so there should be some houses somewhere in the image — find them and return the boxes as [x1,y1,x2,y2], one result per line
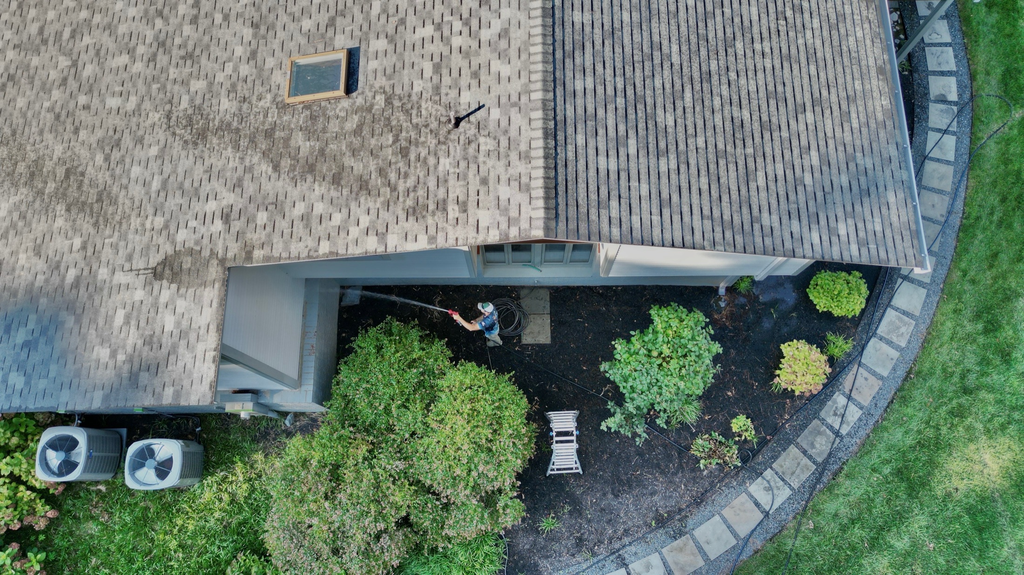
[0,0,938,415]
